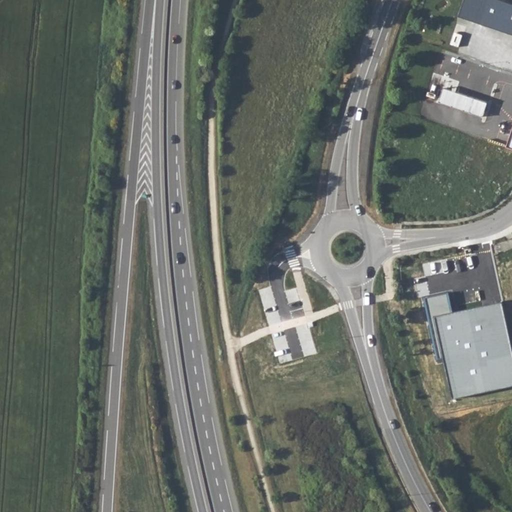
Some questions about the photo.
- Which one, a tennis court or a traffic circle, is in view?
traffic circle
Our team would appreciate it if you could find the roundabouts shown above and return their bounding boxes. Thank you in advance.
[308,209,387,288]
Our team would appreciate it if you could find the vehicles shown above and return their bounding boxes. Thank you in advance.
[291,301,302,308]
[172,34,177,45]
[428,501,436,512]
[274,349,288,356]
[368,335,374,347]
[450,58,462,64]
[172,80,176,90]
[171,202,176,214]
[442,260,448,274]
[415,277,426,284]
[466,256,474,270]
[430,262,436,274]
[273,332,284,338]
[348,105,354,116]
[176,252,182,264]
[356,108,362,121]
[364,293,370,306]
[368,266,373,278]
[454,261,460,273]
[355,204,362,216]
[390,419,397,430]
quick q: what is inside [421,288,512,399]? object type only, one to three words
building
